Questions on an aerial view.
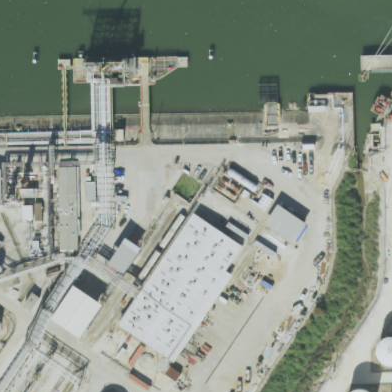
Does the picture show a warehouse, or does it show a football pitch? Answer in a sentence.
The one in the frame is a warehouse.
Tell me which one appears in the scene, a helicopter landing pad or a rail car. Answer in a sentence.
I can see a rail car in this picture.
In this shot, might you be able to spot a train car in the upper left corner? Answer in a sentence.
No, no train car appears in the upper left corner.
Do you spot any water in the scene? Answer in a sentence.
Yes, there is water in the image.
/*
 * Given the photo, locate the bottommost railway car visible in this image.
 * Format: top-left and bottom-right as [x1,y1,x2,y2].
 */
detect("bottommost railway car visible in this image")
[138,250,162,281]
